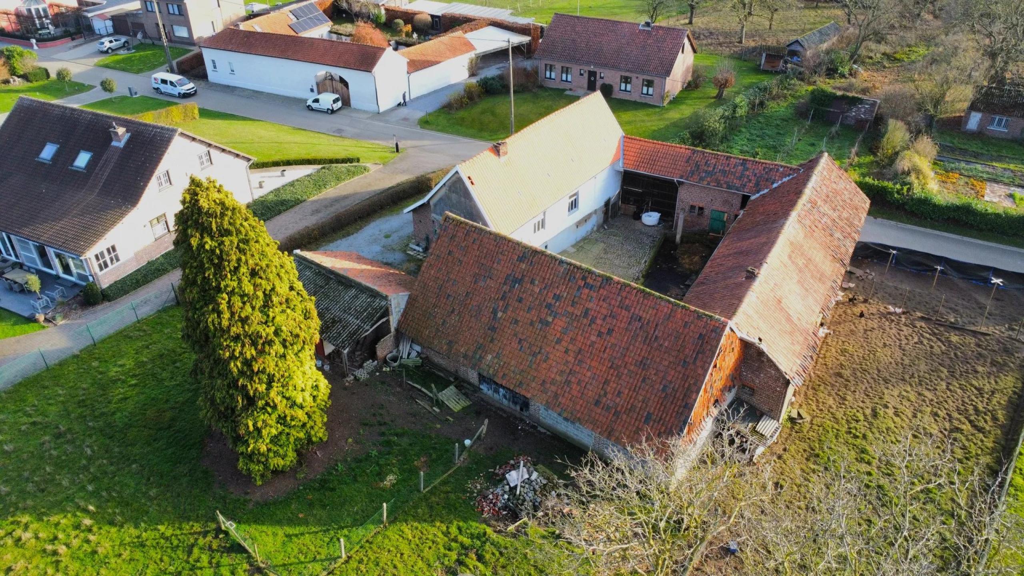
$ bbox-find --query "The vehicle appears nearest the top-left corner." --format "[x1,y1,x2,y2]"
[97,36,125,51]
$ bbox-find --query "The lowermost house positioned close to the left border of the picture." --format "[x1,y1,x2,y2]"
[0,97,259,287]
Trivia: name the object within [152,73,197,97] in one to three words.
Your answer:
vehicle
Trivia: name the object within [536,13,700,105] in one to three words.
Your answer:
house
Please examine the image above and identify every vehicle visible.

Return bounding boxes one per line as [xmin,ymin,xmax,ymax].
[306,92,343,114]
[97,36,125,51]
[152,73,197,97]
